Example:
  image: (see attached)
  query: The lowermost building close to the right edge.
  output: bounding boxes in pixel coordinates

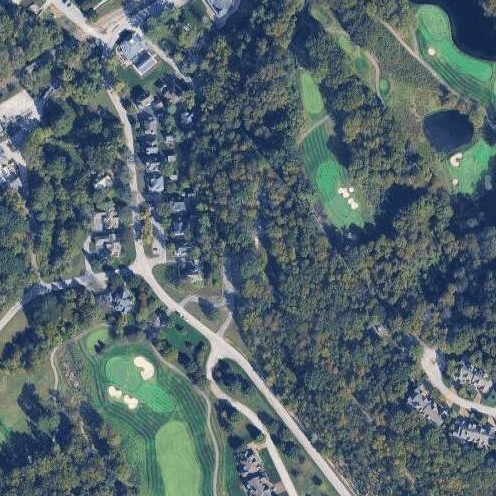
[453,420,493,447]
